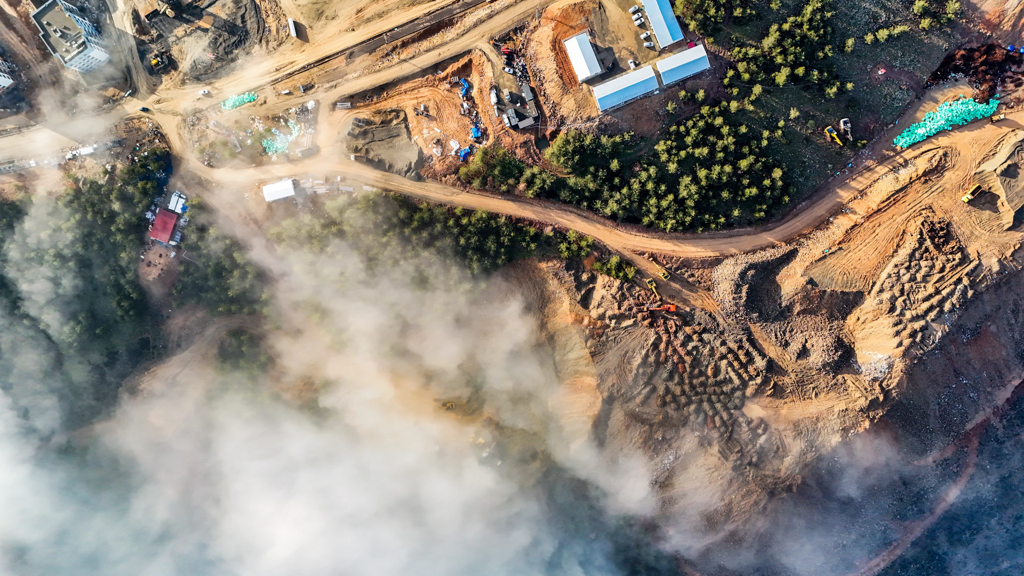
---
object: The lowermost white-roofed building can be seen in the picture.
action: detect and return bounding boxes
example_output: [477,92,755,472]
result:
[262,178,300,204]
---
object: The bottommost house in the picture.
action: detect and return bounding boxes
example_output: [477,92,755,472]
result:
[149,208,178,245]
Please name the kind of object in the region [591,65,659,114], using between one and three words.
building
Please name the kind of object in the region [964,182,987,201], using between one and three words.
vehicle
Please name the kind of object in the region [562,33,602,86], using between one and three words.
building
